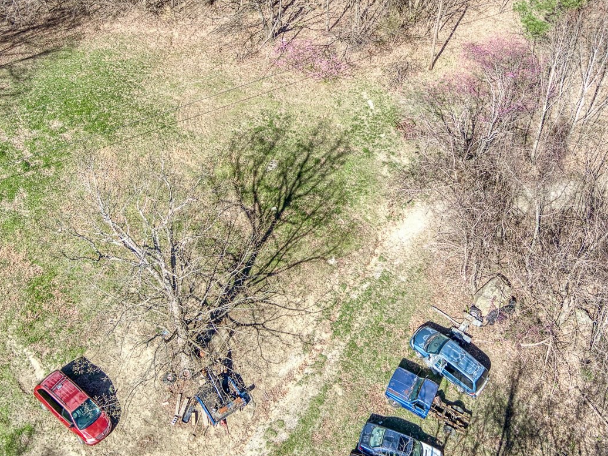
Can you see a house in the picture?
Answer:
No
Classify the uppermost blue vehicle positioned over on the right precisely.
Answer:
automobile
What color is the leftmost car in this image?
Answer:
red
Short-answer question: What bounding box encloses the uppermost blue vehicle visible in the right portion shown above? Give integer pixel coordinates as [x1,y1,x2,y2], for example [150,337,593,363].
[411,323,492,395]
